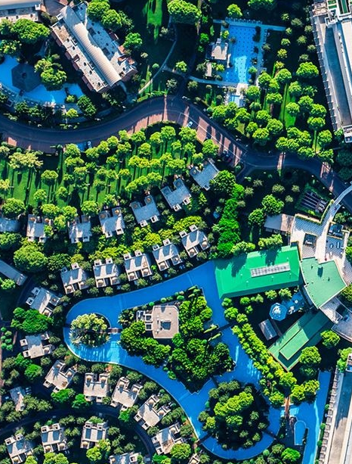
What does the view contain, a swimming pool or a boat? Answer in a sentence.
The one in the frame is a swimming pool.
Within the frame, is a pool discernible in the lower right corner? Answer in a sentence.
Yes, there is a pool in the lower right corner.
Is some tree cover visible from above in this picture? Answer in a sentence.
Yes, tree cover shows up in the scene.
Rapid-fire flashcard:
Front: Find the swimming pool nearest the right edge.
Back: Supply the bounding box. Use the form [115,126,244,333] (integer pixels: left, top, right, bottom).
[302,369,333,464]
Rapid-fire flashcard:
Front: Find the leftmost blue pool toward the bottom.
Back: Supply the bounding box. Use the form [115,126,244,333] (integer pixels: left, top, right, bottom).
[63,263,281,462]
